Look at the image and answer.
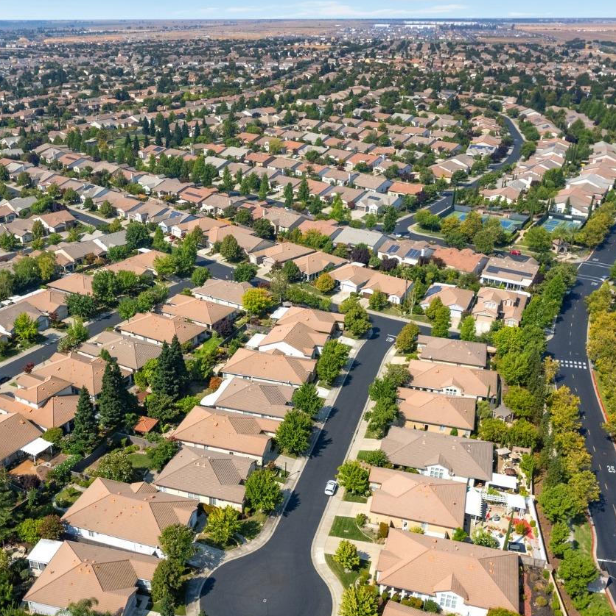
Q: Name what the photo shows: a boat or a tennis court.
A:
tennis court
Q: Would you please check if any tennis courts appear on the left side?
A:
No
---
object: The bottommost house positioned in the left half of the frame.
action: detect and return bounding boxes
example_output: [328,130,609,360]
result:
[6,542,159,616]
